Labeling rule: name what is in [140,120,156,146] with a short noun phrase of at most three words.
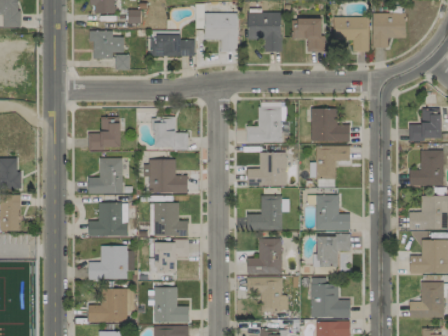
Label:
swimming pool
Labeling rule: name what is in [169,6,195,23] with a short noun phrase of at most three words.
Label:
swimming pool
